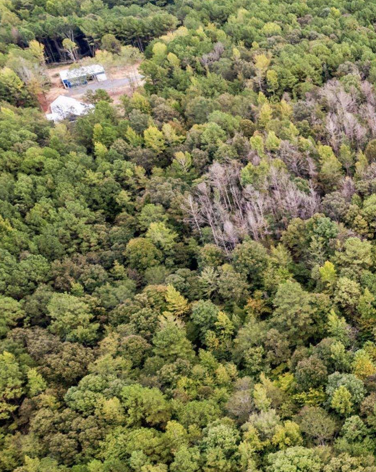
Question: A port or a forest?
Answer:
forest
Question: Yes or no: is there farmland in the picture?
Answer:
No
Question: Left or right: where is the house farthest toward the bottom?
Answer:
left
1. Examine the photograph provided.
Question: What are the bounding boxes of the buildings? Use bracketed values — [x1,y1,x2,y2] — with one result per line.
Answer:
[44,96,94,127]
[61,61,108,89]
